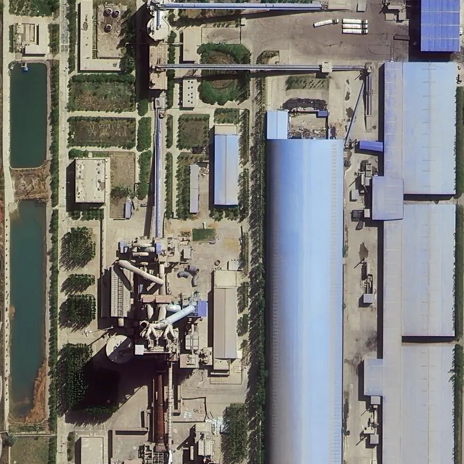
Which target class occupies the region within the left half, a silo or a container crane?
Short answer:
silo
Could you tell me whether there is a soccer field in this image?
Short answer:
No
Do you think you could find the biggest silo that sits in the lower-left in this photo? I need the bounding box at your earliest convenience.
[105,335,134,363]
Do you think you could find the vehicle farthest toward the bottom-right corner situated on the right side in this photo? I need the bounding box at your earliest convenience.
[364,405,378,438]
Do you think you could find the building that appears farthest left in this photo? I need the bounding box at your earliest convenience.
[14,23,45,53]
